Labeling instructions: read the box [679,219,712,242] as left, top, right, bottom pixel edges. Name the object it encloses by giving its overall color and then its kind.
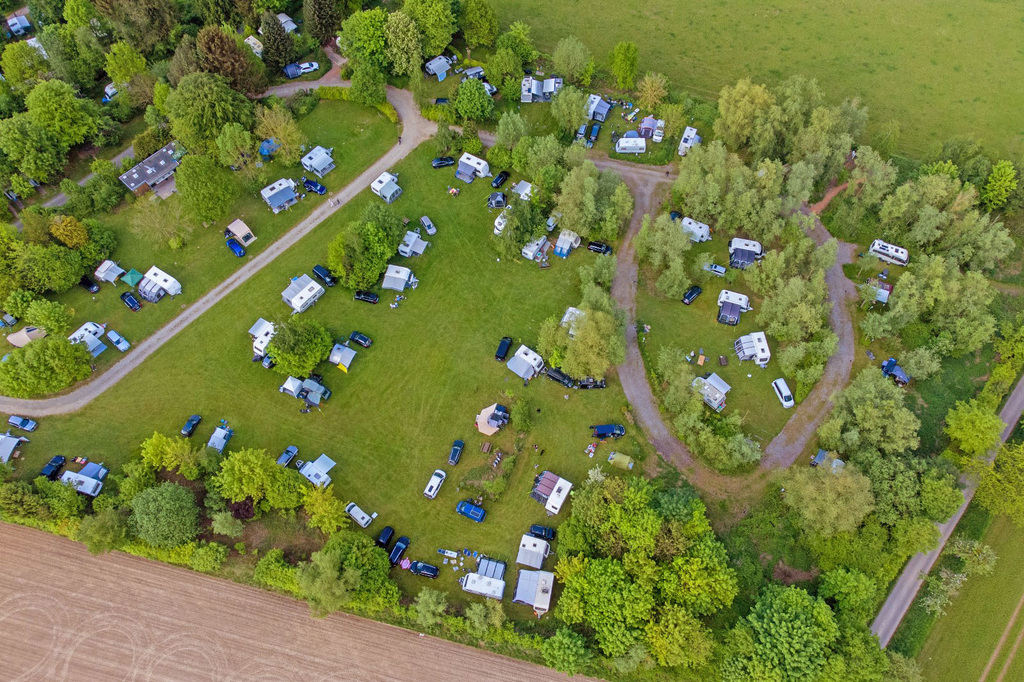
white camper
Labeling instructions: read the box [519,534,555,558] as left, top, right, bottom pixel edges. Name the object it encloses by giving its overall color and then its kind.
white camper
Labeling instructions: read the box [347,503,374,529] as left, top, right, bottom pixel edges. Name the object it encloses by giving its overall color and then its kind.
white vehicle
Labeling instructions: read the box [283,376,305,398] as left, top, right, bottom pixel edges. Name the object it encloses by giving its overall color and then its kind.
white gazebo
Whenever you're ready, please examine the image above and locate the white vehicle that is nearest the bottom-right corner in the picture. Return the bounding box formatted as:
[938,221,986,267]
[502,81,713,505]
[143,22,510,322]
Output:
[772,381,793,409]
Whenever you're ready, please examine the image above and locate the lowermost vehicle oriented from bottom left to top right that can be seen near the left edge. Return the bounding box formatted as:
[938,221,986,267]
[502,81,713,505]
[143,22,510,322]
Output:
[38,453,70,477]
